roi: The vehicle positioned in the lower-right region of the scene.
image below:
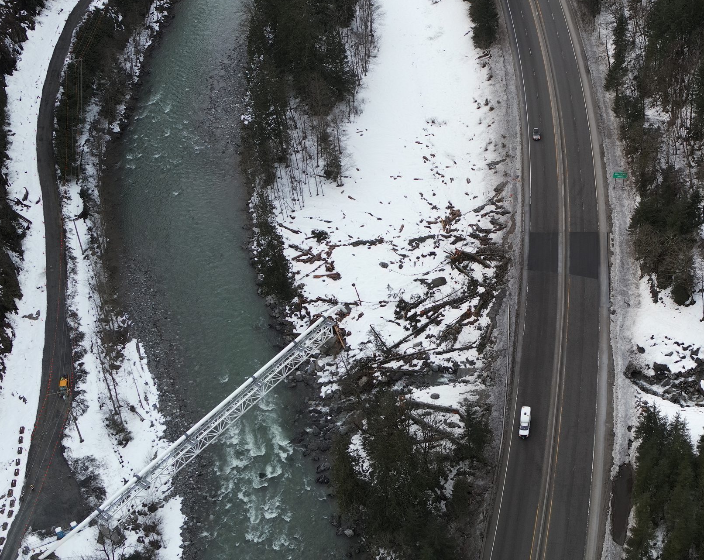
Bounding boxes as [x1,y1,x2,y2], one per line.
[518,408,530,438]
